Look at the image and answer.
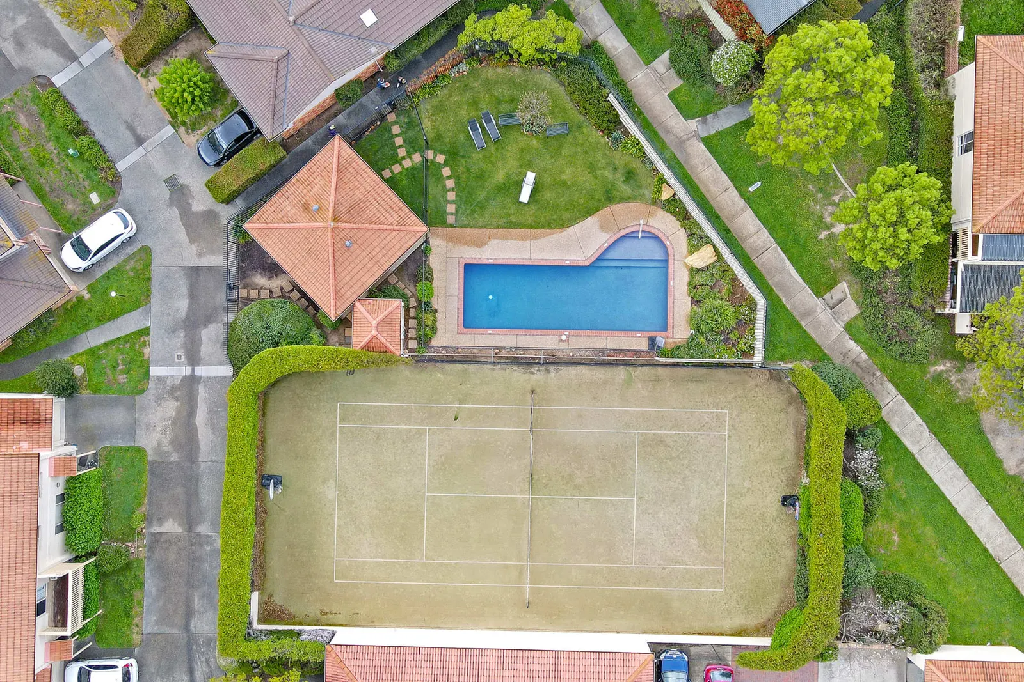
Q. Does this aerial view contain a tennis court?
Yes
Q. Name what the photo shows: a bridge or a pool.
pool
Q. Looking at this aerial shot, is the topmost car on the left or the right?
left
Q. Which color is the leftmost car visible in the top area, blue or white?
white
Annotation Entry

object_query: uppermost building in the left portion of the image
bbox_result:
[185,0,457,149]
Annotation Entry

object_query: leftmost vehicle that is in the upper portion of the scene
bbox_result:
[60,208,138,268]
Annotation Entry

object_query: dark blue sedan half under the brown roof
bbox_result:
[193,107,264,166]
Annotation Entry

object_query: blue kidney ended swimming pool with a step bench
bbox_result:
[464,231,668,331]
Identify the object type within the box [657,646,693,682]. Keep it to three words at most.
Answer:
car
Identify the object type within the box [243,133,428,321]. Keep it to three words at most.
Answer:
building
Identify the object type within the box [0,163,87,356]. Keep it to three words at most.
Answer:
house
